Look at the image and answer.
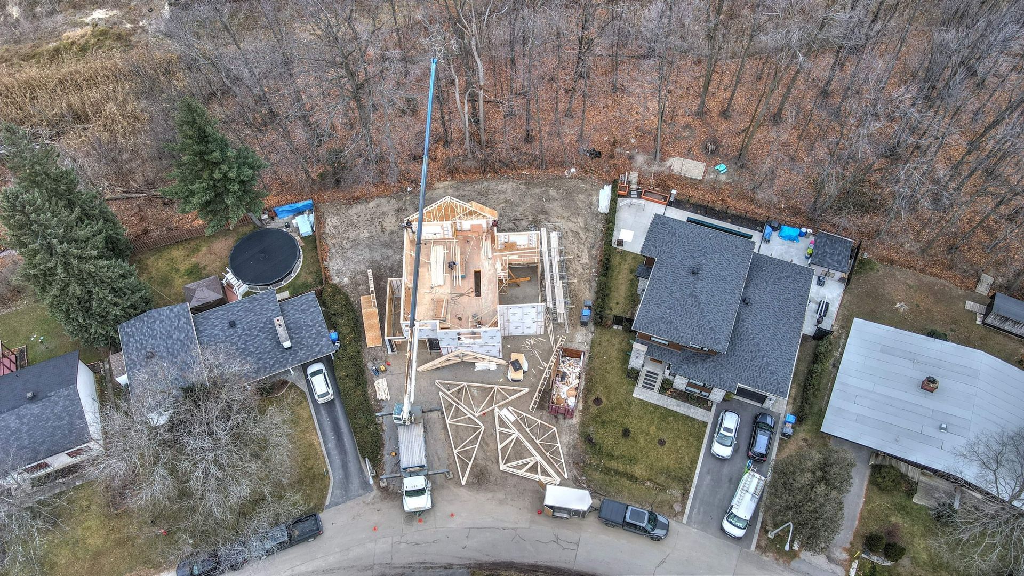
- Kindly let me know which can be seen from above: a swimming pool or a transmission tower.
swimming pool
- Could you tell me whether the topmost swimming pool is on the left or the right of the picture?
right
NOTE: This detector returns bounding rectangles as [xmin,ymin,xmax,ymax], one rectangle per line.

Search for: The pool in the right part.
[686,216,754,240]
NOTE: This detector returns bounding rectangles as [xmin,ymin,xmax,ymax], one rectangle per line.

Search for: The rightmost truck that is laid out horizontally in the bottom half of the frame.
[594,497,671,541]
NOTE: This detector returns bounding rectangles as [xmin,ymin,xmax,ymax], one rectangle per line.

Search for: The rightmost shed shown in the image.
[972,292,1024,355]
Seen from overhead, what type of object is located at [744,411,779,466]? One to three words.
car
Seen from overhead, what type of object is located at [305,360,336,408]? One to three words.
car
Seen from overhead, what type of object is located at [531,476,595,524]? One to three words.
trailer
